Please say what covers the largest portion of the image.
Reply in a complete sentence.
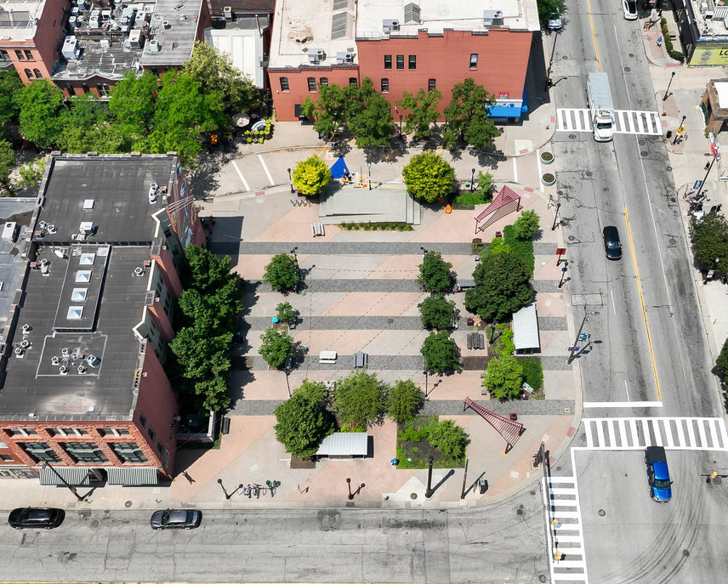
Most of the picture is covered by paved ground.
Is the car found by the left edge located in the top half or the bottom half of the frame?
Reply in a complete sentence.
The bottom half of the photo is where the car found by the left edge is.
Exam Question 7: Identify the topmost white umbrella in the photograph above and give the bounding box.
[233,114,251,132]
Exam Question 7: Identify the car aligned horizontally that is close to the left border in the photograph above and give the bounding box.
[13,506,65,530]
